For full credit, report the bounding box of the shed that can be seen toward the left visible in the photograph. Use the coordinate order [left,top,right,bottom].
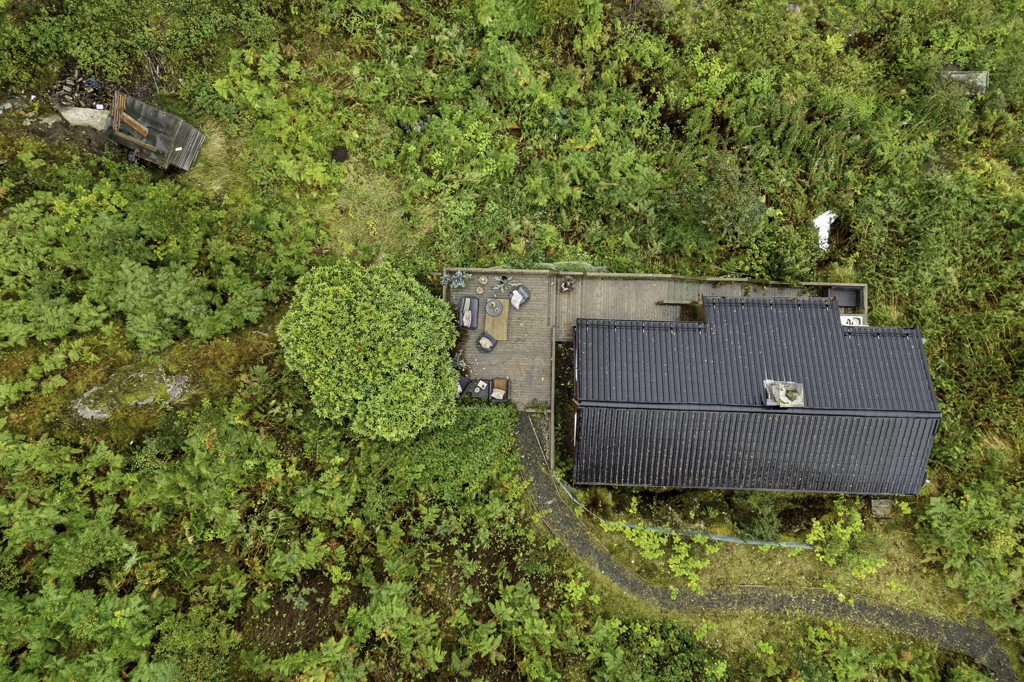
[103,90,205,179]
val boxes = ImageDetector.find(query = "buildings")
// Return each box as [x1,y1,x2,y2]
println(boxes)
[569,295,945,498]
[103,90,205,179]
